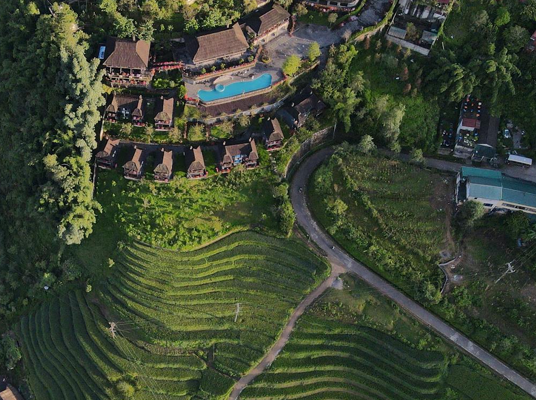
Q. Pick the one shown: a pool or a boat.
pool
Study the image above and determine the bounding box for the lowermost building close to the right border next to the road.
[463,167,536,217]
